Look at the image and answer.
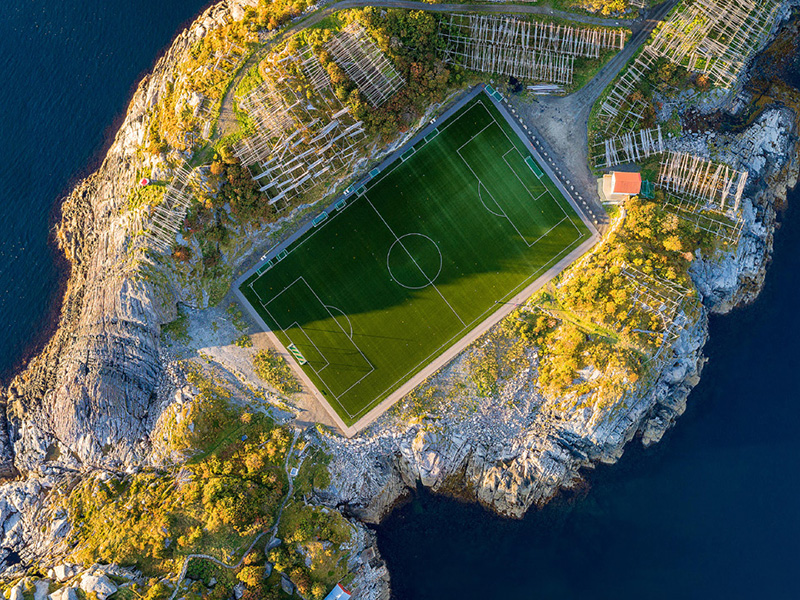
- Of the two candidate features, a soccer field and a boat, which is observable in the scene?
soccer field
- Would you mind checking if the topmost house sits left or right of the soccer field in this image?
on its right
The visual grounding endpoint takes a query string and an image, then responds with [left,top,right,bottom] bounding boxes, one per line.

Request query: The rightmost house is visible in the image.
[614,172,645,194]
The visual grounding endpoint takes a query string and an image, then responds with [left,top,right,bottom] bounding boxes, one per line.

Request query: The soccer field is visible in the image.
[241,91,592,427]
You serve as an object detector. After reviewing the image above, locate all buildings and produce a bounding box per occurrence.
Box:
[614,172,645,194]
[323,584,351,600]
